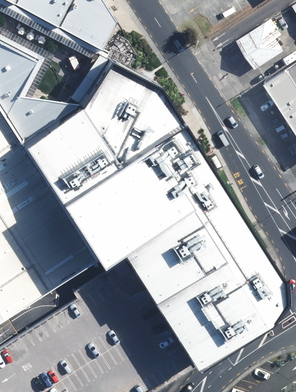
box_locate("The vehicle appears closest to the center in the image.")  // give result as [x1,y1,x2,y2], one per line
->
[211,154,223,170]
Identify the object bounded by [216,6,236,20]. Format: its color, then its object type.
white vehicle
